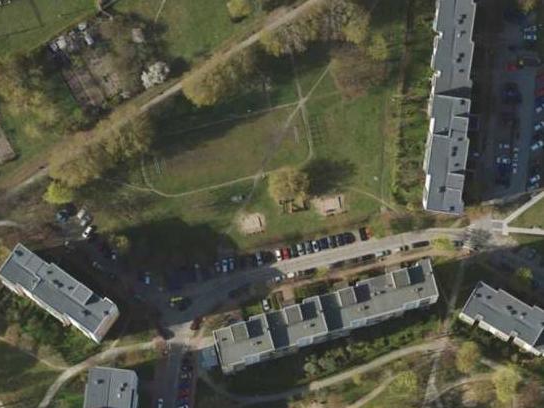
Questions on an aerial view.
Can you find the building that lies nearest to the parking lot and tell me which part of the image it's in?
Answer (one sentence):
The building that lies nearest to the parking lot is located in the top right region of the scene.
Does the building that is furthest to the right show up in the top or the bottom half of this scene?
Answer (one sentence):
The building that is furthest to the right sits in the bottom half of the picture.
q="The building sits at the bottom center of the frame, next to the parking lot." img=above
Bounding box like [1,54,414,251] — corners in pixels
[214,259,444,376]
